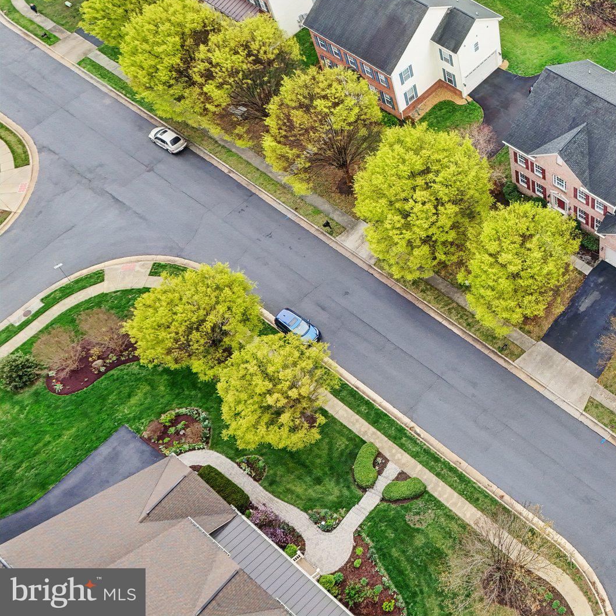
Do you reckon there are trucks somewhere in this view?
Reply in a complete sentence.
No, this view has no truck in it.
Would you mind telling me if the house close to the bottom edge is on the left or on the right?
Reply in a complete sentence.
The house close to the bottom edge is on the left side of the image.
